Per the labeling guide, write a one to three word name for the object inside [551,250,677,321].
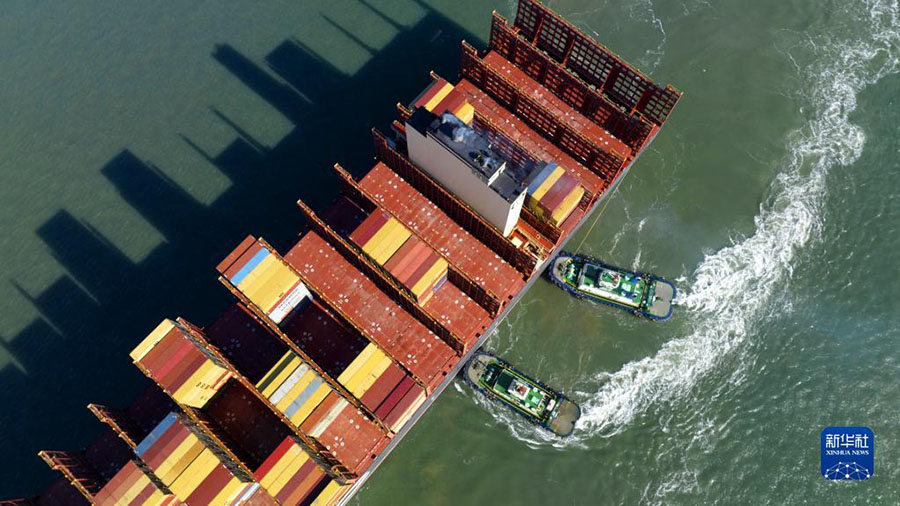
boat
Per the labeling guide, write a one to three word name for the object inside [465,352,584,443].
boat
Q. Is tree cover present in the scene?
No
